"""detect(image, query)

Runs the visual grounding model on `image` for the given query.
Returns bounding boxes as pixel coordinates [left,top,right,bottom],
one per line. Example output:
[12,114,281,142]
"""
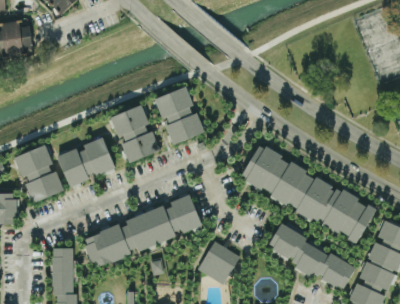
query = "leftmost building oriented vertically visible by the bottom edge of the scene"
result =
[54,248,74,294]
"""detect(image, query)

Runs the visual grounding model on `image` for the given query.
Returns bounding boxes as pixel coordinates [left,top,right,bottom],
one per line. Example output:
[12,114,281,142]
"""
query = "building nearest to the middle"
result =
[167,114,204,145]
